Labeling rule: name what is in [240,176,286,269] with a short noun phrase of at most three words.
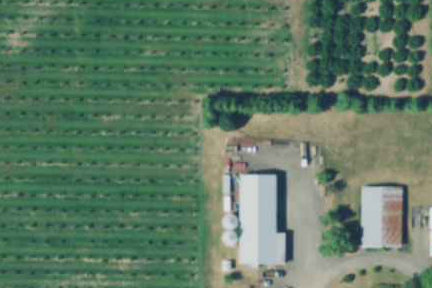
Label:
shed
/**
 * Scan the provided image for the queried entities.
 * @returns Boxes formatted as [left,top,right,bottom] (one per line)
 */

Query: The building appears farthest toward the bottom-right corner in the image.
[362,187,404,248]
